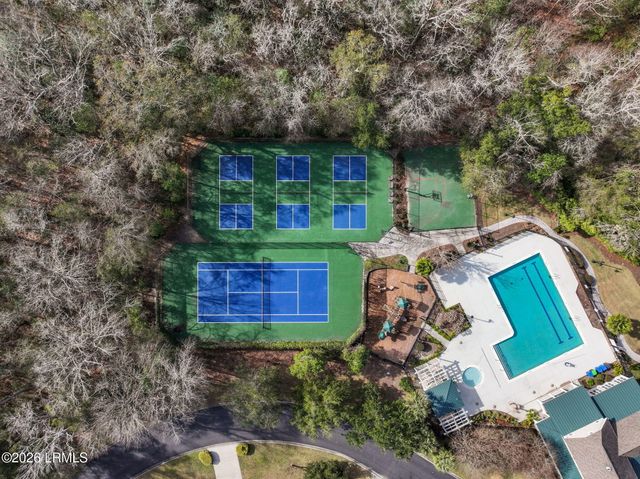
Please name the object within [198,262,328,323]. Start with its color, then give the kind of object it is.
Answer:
blue tennis court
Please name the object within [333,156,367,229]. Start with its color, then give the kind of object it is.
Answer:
blue sports court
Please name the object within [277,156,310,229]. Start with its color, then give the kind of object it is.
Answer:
blue sports court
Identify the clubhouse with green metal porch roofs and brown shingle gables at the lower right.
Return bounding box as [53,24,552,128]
[532,373,640,479]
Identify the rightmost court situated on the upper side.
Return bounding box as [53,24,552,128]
[404,147,476,231]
